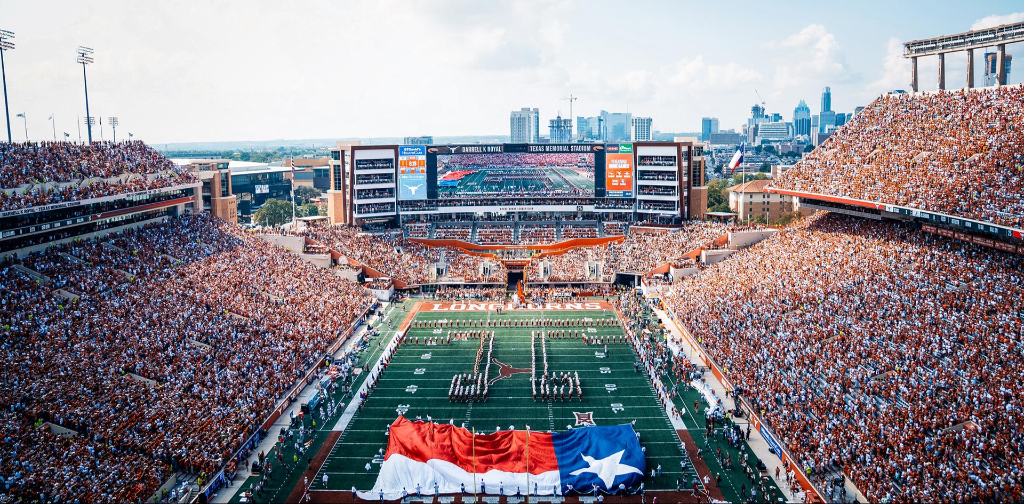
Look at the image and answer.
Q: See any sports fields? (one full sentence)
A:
Yes, the picture does show a sports field.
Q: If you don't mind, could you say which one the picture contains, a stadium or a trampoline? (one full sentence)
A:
This aerial view contains a stadium.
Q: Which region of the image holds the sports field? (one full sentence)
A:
The sports field is located in the bottom region of the scene.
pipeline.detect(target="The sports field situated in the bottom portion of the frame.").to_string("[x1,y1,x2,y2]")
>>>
[311,310,704,489]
